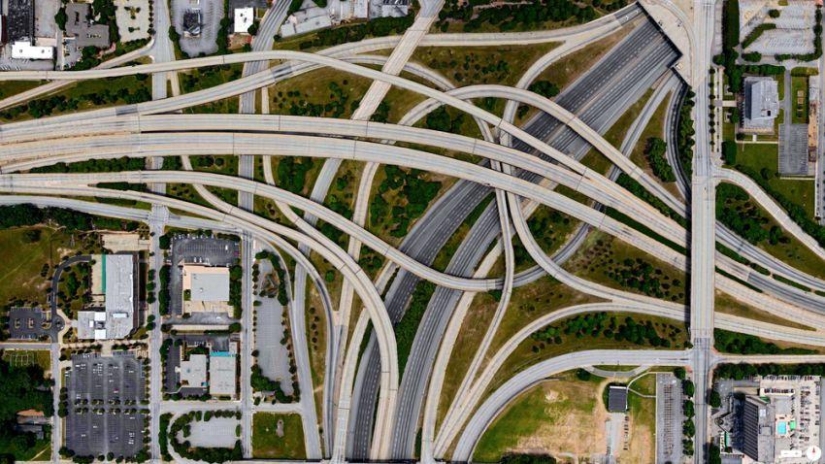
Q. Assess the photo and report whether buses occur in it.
No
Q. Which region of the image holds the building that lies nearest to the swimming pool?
bottom right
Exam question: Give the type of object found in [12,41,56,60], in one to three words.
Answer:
building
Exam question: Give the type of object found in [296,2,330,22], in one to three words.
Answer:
building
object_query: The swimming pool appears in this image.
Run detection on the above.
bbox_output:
[777,415,796,438]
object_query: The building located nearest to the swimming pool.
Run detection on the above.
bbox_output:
[744,397,777,464]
